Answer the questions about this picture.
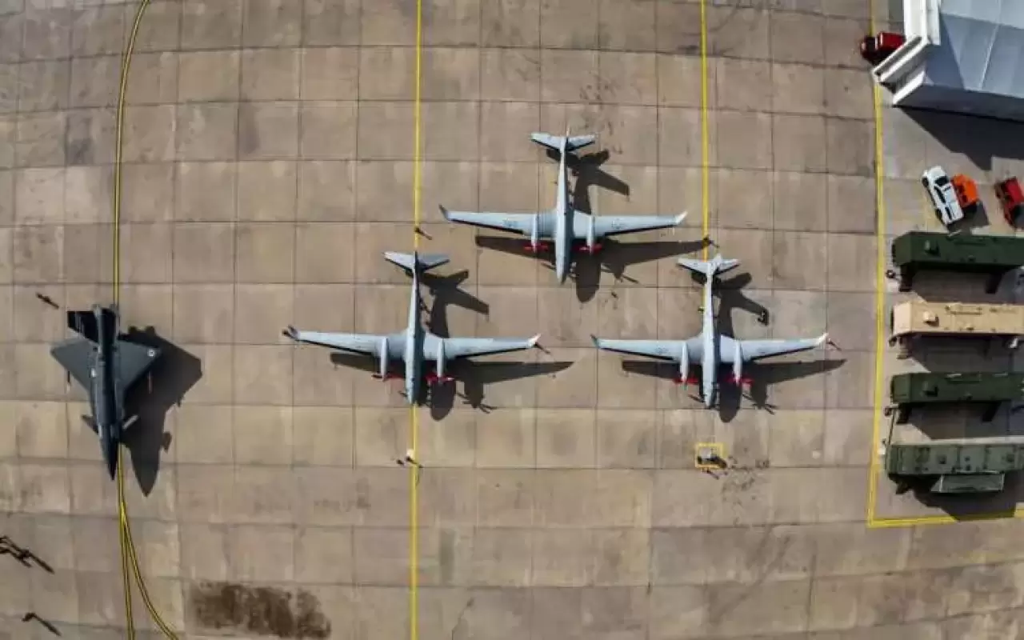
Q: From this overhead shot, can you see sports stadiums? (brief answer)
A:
No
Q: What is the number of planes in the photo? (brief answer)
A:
4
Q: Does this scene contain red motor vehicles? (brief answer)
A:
Yes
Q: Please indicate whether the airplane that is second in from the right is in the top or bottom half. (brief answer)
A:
top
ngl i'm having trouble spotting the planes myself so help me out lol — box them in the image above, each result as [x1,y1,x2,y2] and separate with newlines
[442,128,688,283]
[595,260,829,404]
[54,304,163,478]
[289,254,535,405]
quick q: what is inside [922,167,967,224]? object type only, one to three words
truck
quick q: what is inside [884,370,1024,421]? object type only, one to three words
trailer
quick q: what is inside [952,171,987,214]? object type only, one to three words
car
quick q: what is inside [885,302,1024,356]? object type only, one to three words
trailer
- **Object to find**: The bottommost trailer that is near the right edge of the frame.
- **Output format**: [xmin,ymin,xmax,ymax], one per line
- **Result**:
[880,437,1024,491]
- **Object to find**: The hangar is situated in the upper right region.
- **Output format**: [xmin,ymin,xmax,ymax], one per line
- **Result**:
[875,0,1024,120]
